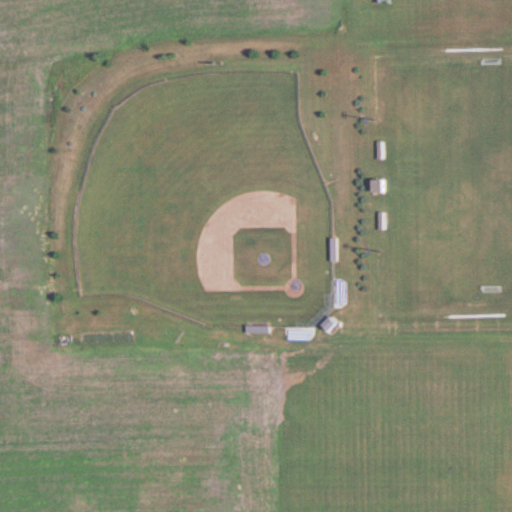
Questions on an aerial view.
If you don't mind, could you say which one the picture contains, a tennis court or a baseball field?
baseball field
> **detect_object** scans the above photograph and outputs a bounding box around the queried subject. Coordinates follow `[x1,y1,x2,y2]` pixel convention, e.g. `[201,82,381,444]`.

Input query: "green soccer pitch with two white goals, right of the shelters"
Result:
[386,63,512,314]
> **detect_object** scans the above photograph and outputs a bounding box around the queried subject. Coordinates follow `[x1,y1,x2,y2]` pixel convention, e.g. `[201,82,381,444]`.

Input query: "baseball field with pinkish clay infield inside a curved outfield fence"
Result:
[76,72,334,327]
